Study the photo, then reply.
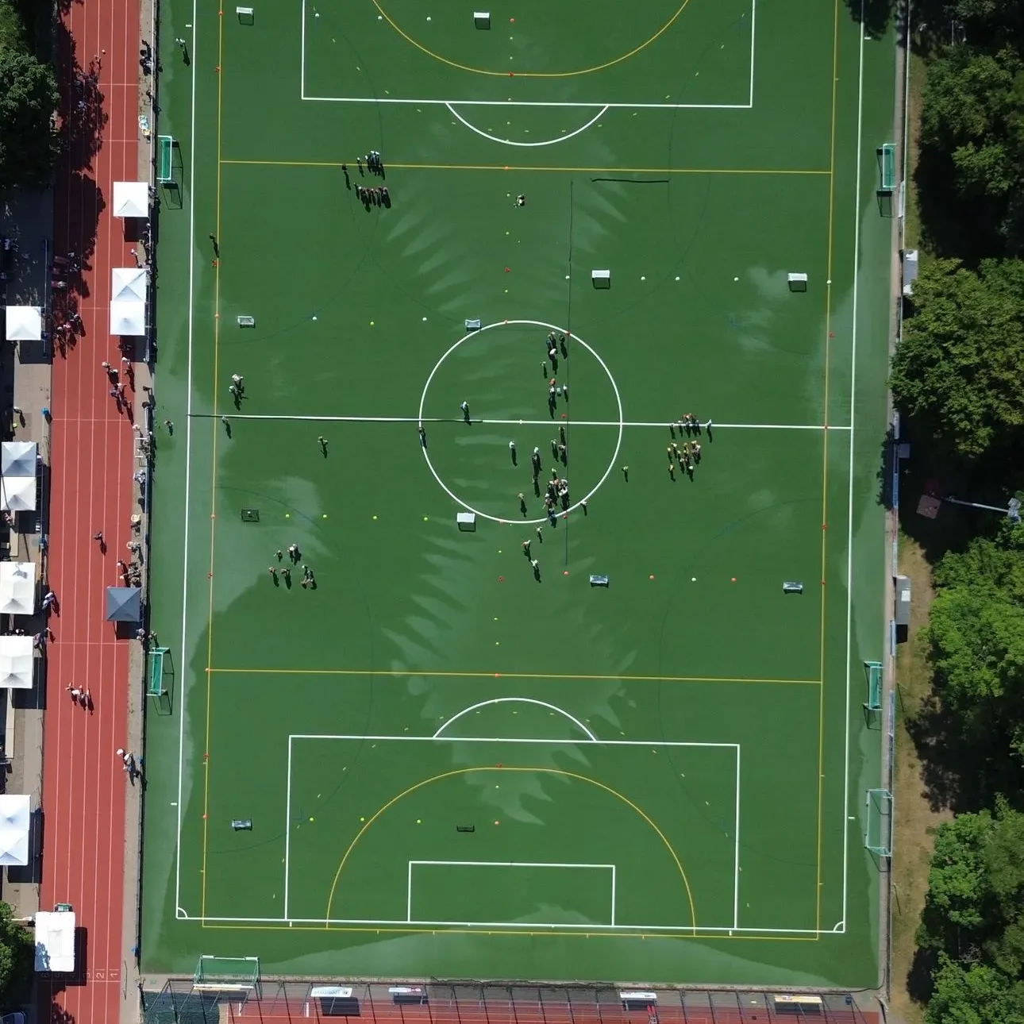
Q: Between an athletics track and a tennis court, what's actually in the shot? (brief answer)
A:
athletics track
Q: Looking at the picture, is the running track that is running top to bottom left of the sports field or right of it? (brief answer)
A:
on the left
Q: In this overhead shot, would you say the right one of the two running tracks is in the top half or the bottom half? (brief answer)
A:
bottom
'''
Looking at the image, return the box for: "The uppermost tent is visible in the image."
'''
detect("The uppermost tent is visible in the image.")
[113,182,151,221]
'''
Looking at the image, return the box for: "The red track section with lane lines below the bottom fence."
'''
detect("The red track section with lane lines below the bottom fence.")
[228,1001,879,1024]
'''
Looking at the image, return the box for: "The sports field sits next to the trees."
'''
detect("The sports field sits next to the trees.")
[141,0,897,988]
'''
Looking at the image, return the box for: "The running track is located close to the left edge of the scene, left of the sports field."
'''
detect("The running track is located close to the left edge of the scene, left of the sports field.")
[36,0,139,1024]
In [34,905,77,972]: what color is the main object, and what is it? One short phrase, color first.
white tent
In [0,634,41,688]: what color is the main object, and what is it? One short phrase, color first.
white tent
